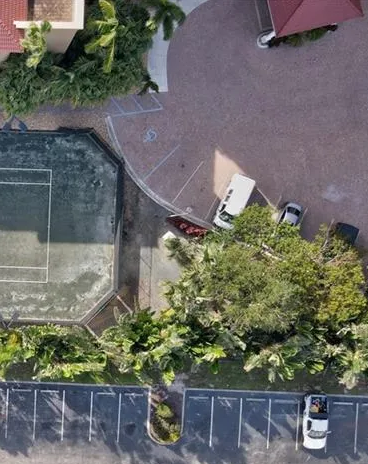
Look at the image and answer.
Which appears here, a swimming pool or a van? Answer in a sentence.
Looking from above, you can make out a van.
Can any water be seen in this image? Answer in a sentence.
No, water can't be seen anywhere here.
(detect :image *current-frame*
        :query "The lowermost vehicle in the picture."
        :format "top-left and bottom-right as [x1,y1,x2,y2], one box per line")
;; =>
[301,393,329,450]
